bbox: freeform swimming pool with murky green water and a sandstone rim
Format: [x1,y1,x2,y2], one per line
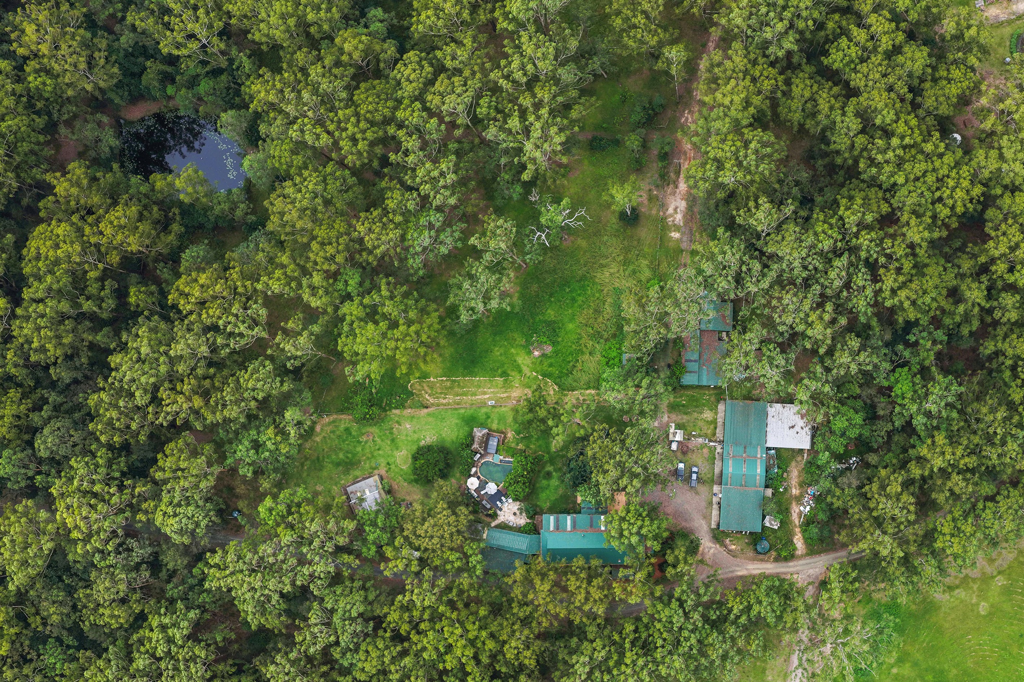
[477,459,517,486]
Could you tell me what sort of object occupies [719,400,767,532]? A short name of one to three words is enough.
shed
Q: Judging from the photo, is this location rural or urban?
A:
rural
